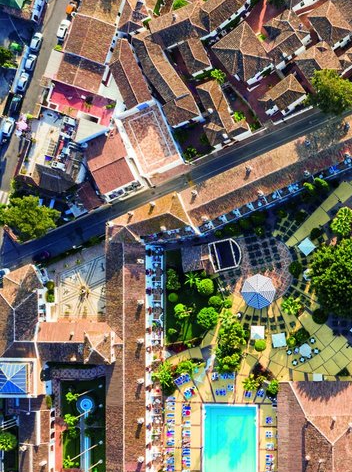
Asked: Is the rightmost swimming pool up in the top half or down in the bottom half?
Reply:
bottom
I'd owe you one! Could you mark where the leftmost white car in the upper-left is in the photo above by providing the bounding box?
[1,117,16,137]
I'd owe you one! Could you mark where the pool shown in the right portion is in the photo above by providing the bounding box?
[201,404,258,472]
